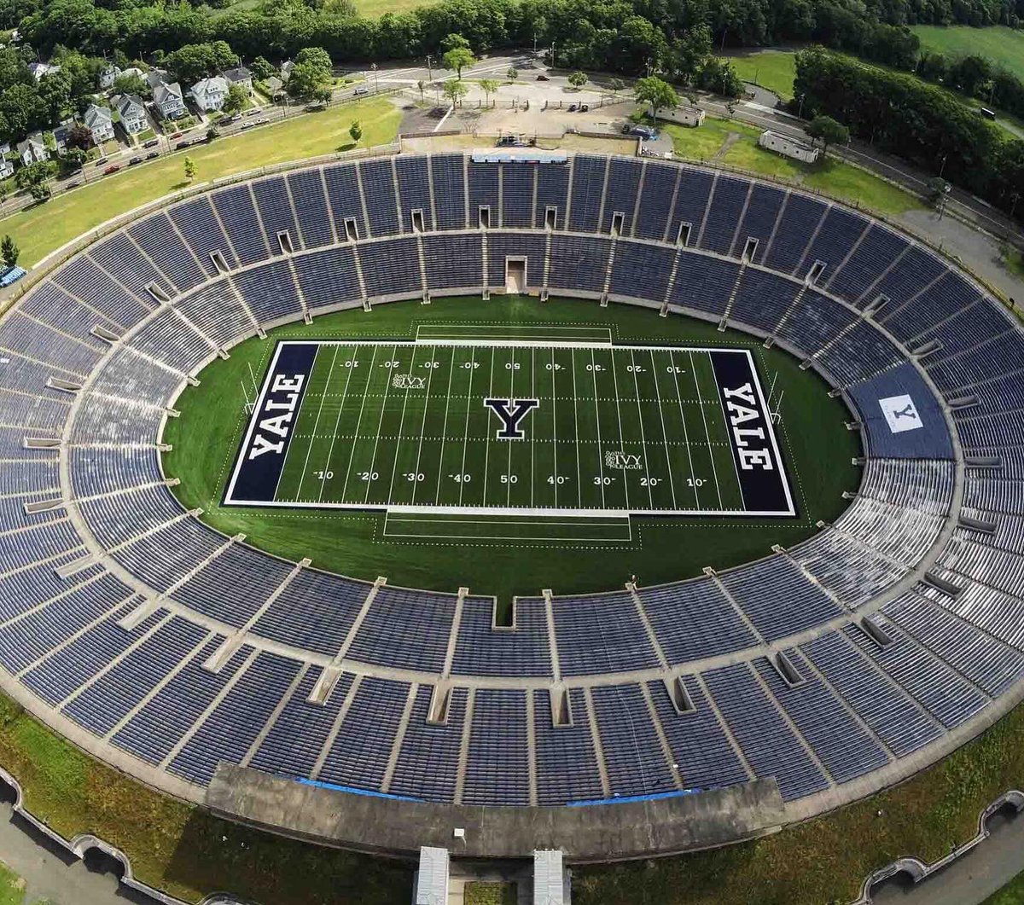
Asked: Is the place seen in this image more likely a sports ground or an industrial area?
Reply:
sports ground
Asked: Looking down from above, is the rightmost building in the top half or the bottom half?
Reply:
top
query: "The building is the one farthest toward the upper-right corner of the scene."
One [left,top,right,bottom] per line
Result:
[760,128,817,163]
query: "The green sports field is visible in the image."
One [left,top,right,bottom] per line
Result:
[158,292,865,630]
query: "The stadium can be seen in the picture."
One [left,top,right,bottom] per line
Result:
[0,148,1024,826]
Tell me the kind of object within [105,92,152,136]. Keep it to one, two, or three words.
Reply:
house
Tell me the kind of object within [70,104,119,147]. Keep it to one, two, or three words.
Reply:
house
